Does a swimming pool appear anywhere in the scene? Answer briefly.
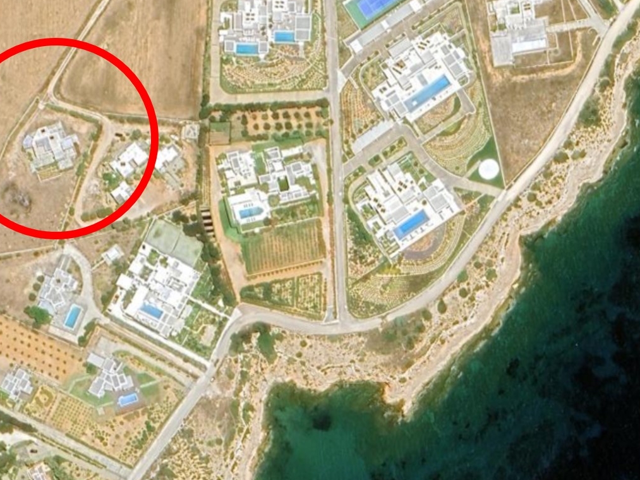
Yes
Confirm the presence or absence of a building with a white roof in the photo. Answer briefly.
Yes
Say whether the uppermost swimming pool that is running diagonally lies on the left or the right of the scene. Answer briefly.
right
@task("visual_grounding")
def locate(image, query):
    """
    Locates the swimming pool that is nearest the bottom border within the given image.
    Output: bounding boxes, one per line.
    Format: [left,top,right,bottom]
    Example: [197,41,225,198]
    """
[118,392,138,407]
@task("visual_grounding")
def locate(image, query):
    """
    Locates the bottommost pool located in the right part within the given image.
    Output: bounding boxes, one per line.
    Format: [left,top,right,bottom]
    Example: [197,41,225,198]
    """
[392,209,430,240]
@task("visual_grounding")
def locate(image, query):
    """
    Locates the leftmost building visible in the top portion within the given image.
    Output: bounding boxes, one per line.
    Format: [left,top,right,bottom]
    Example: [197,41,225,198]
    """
[24,121,80,181]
